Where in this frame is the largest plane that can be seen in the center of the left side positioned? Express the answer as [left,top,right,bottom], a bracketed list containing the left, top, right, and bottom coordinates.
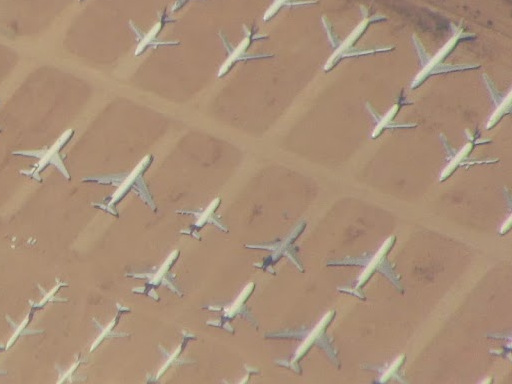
[82,154,157,217]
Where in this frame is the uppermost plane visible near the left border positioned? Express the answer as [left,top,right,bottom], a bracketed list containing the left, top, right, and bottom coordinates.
[12,129,73,181]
